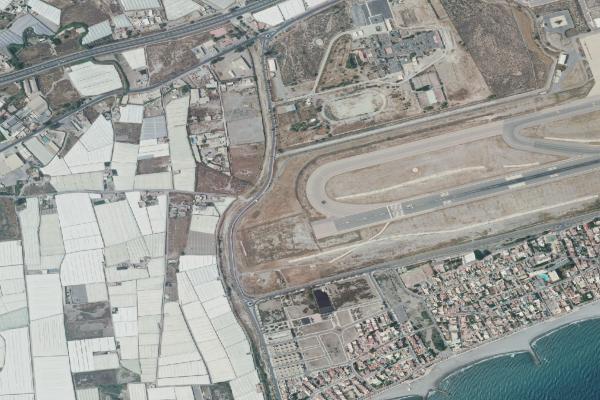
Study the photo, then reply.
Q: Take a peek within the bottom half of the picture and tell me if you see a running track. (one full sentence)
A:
No, I can find no running track within the bottom half of the picture.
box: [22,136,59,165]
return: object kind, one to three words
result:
greenhouse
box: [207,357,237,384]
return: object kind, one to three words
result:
greenhouse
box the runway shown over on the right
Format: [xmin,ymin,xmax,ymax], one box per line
[335,155,600,228]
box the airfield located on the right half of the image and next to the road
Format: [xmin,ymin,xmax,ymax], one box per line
[233,30,600,295]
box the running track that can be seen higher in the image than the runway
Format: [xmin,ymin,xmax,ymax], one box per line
[322,90,387,124]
